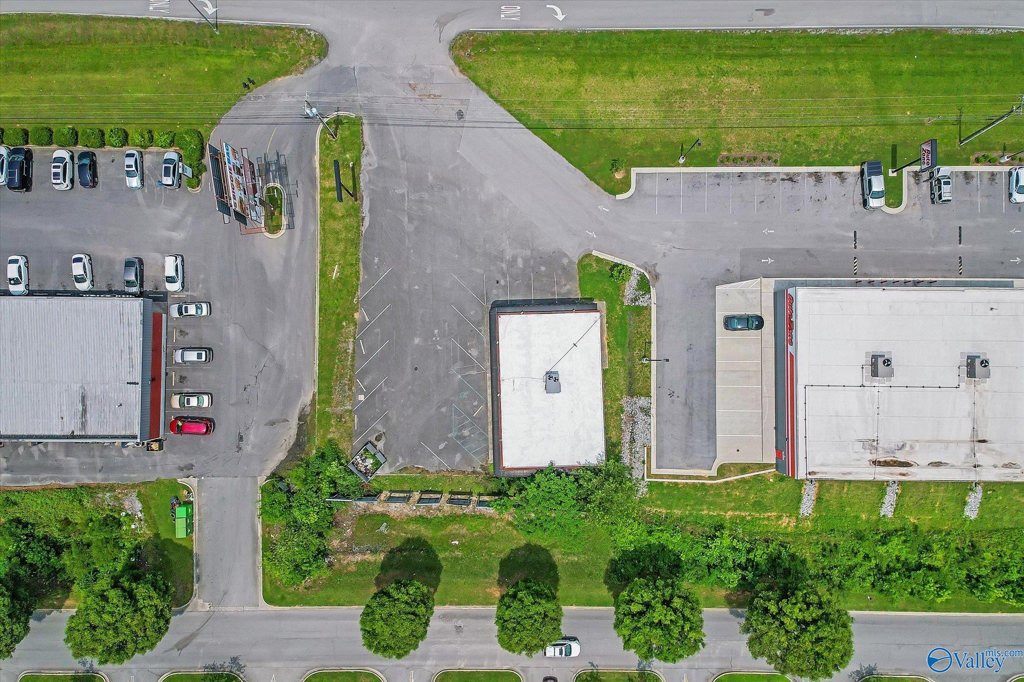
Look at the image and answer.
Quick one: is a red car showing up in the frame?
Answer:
Yes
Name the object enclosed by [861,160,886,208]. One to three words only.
truck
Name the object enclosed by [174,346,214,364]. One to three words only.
car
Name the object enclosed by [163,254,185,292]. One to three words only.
car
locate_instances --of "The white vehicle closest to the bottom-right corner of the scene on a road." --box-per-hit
[545,637,581,659]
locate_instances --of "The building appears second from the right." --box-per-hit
[490,303,606,476]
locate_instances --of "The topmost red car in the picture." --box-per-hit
[170,416,214,436]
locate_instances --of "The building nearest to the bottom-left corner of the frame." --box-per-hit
[0,295,167,442]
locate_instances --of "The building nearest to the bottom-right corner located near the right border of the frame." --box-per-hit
[775,286,1024,484]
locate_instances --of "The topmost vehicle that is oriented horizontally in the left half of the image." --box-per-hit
[170,300,211,318]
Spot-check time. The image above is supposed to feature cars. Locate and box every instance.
[545,637,581,659]
[50,150,74,191]
[0,146,10,185]
[72,253,95,291]
[160,151,182,189]
[76,151,98,189]
[170,300,211,318]
[7,255,30,295]
[1008,166,1024,204]
[174,346,214,364]
[5,147,32,192]
[122,257,144,295]
[723,313,764,332]
[163,254,185,292]
[926,168,954,204]
[171,391,212,409]
[123,150,145,190]
[170,416,214,436]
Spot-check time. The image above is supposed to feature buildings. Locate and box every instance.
[775,286,1024,484]
[0,295,167,442]
[490,303,606,476]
